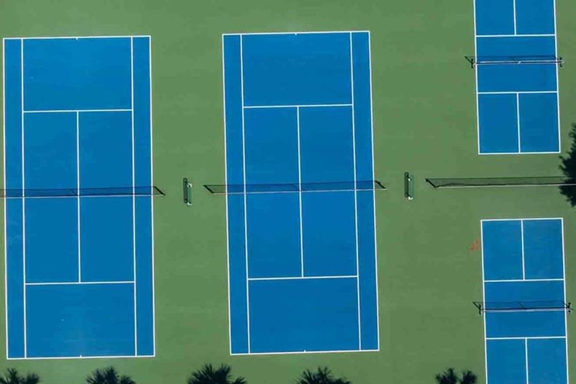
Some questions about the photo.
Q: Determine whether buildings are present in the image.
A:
No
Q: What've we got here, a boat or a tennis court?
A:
tennis court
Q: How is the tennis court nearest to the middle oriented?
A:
up and down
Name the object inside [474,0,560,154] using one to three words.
sports court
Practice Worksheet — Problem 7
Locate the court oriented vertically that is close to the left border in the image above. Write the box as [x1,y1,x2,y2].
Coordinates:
[2,35,156,360]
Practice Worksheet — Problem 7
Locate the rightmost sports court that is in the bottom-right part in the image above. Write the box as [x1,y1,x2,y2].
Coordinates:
[482,218,568,384]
